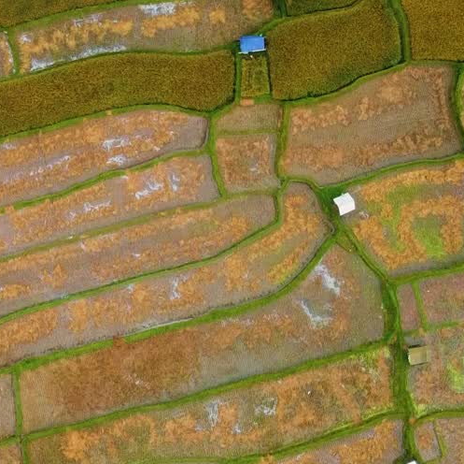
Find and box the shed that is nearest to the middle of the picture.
[332,193,354,216]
